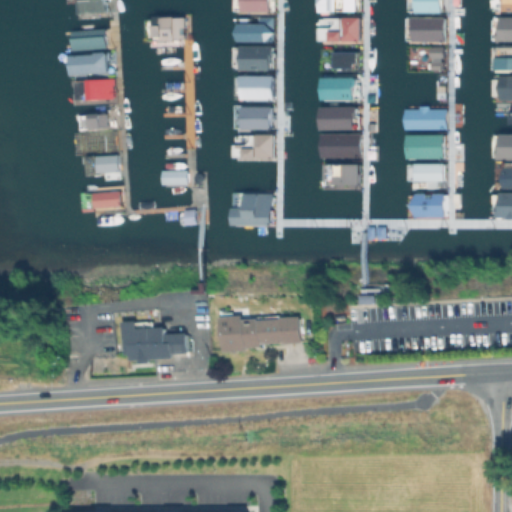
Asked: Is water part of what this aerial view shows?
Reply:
Yes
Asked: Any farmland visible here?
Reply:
No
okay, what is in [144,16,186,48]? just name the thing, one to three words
house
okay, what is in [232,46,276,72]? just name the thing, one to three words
house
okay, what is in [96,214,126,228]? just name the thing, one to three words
boat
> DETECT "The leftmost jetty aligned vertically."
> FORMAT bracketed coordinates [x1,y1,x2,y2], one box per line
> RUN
[112,0,132,212]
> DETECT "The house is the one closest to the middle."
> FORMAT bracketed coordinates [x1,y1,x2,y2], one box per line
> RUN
[228,192,276,228]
